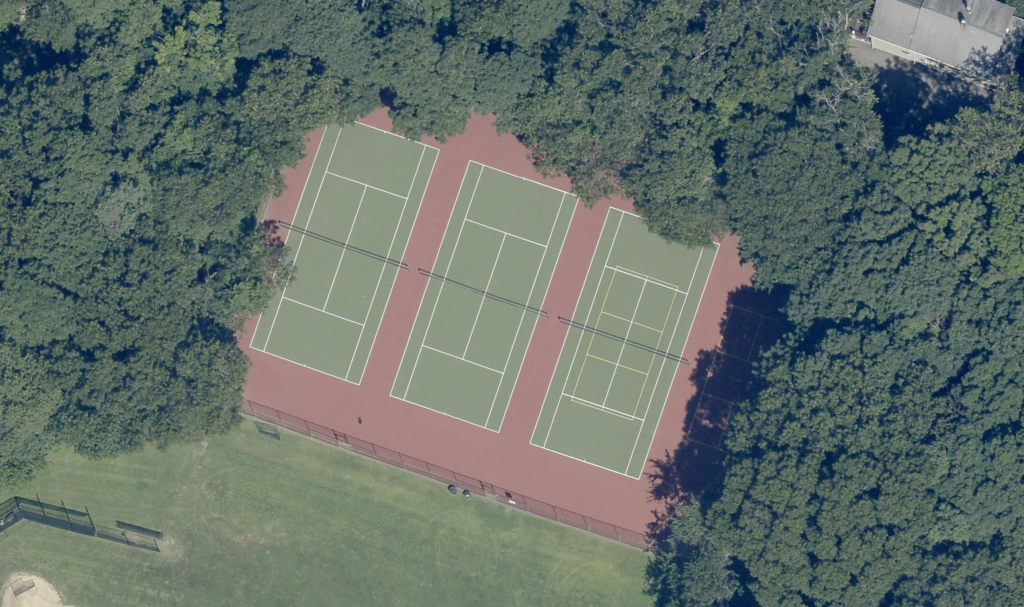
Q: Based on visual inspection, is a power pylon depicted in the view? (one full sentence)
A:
No, the photo shows no power pylon.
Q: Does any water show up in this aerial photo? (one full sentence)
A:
No, the picture contains no water.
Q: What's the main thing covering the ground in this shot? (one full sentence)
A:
Most of the picture is covered by trees.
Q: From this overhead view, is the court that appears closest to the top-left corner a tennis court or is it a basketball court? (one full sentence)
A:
It turns out the court that appears closest to the top-left corner is a tennis court.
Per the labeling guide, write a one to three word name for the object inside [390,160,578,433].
tennis court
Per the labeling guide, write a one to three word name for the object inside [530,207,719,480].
tennis court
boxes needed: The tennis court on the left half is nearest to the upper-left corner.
[250,117,438,385]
